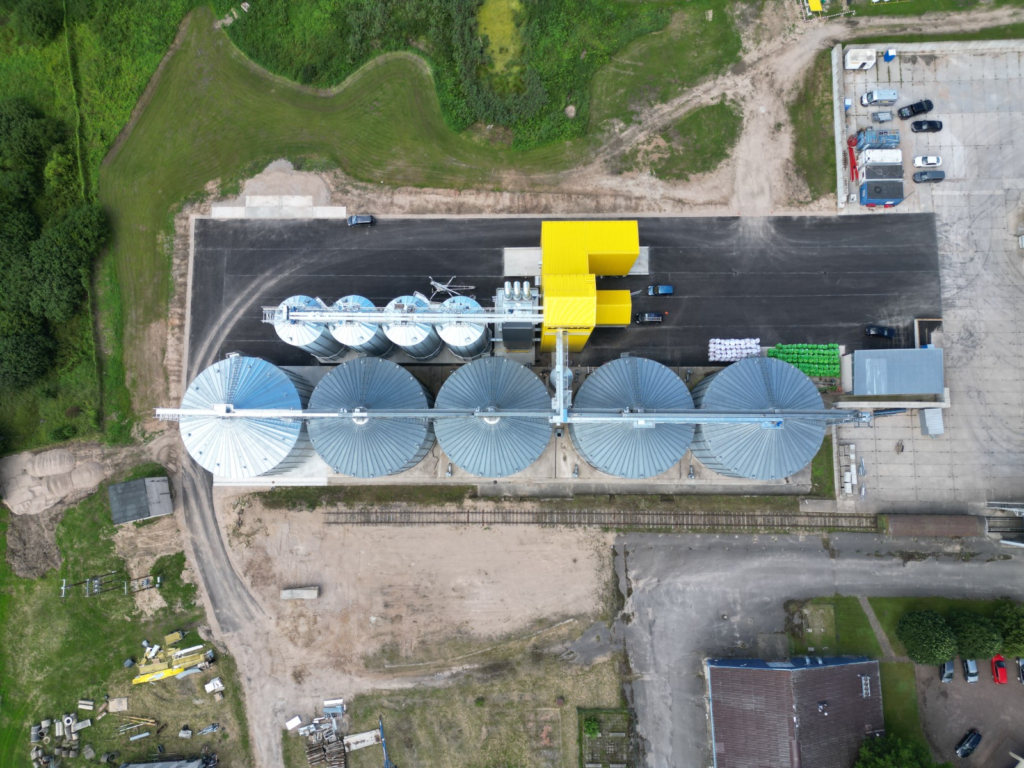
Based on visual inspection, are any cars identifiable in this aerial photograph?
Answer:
Yes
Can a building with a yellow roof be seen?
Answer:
Yes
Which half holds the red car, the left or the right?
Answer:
right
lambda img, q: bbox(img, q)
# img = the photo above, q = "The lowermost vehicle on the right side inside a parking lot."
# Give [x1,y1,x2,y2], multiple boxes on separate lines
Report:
[954,728,985,760]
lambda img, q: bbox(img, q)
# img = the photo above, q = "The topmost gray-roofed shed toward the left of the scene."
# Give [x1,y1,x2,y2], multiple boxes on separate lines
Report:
[109,477,181,526]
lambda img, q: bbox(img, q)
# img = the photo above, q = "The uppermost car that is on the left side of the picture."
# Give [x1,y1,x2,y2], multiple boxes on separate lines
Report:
[347,213,375,227]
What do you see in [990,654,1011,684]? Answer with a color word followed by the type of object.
red car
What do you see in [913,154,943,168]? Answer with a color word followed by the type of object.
white car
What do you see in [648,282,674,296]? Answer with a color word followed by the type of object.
blue vehicle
